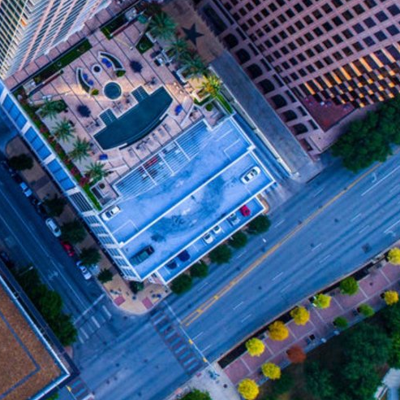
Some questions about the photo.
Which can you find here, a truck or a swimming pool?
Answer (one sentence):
I can see a swimming pool in this picture.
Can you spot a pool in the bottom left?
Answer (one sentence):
No, no pool can be made out in the bottom left.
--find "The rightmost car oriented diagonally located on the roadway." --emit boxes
[75,260,93,280]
